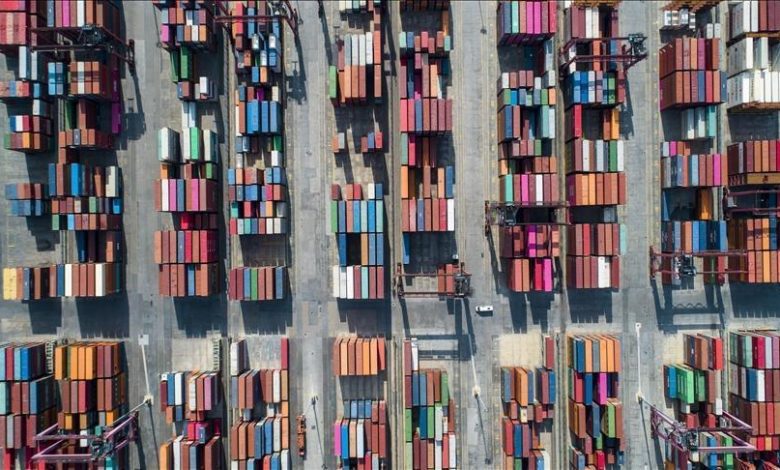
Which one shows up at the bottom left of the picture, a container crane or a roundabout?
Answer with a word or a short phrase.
container crane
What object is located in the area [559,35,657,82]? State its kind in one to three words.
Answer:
container crane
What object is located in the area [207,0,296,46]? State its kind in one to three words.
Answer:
container crane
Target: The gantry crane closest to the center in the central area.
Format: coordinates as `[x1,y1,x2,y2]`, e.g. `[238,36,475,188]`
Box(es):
[394,264,475,299]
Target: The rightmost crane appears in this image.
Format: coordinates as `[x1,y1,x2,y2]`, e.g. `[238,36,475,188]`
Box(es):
[726,190,780,219]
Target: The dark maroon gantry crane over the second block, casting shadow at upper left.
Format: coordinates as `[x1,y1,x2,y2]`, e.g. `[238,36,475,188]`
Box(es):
[24,25,132,72]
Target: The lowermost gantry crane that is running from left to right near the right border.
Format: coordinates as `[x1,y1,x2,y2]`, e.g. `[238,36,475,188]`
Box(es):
[653,404,759,452]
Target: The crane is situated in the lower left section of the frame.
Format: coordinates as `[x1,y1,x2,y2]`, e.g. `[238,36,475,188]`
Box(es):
[30,411,137,462]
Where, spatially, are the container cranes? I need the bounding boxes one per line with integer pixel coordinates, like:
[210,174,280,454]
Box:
[651,245,756,276]
[30,411,137,462]
[394,264,475,299]
[24,25,132,72]
[486,199,574,232]
[207,0,296,46]
[653,404,759,452]
[726,190,780,219]
[559,35,657,82]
